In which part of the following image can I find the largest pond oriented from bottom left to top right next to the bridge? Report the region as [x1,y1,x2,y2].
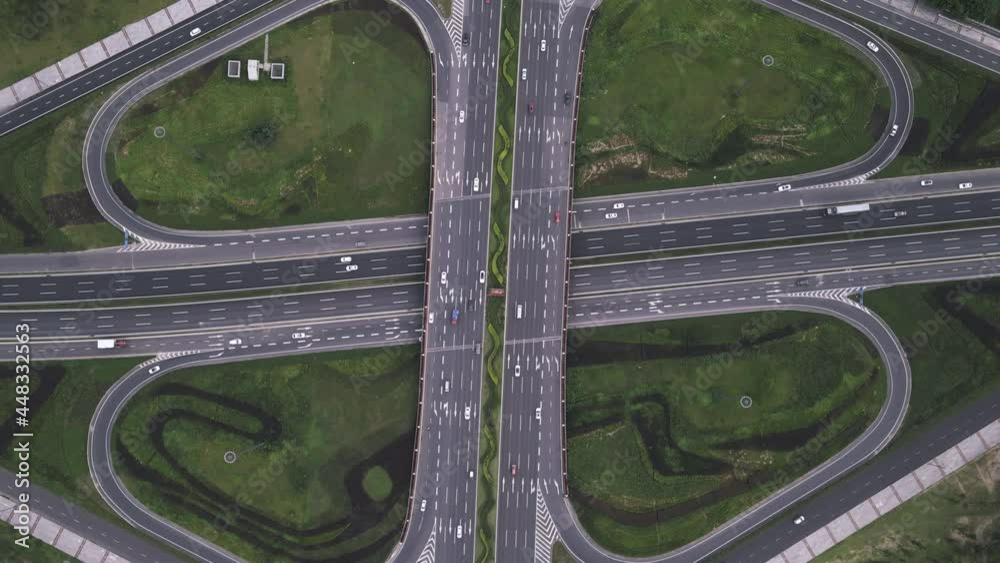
[341,429,416,532]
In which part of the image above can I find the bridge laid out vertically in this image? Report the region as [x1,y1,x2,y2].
[399,8,595,563]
